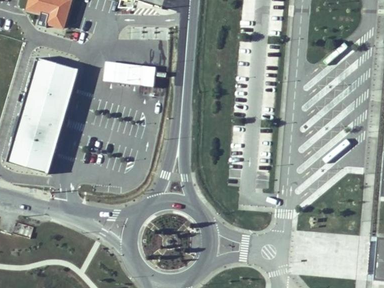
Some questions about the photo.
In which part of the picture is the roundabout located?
bottom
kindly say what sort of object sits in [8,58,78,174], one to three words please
building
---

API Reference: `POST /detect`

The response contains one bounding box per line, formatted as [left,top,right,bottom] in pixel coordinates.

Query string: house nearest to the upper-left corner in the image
[26,0,72,29]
